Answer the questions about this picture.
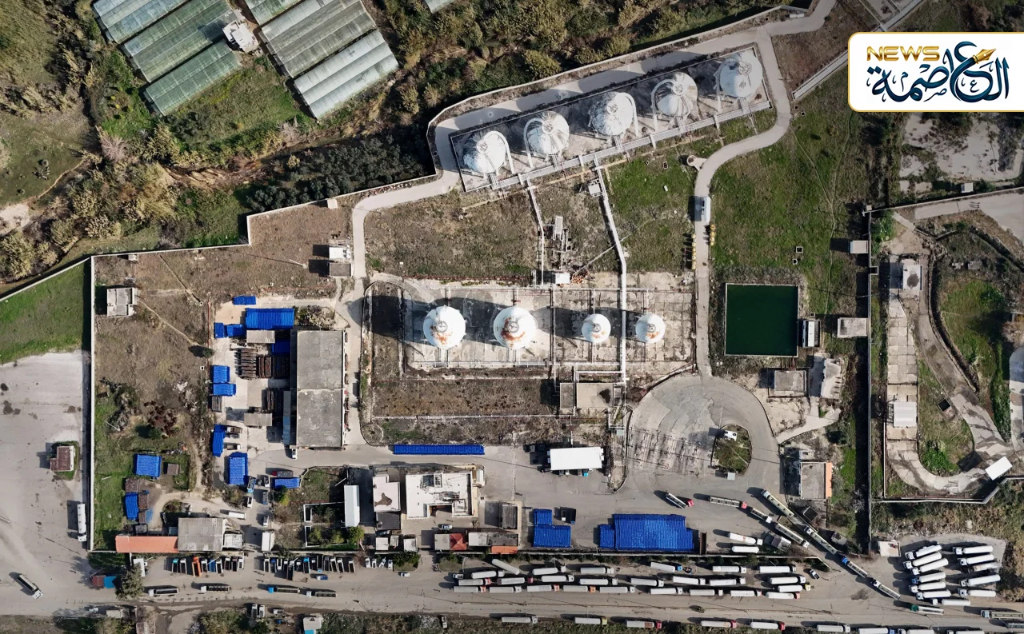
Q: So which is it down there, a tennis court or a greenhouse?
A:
greenhouse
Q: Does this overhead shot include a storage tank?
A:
Yes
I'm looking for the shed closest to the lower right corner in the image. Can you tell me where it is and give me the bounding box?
[875,539,900,557]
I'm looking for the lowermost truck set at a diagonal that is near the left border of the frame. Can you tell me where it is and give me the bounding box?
[18,573,45,598]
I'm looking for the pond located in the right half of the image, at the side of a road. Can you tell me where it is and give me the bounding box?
[724,285,798,370]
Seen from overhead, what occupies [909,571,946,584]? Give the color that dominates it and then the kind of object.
white vehicle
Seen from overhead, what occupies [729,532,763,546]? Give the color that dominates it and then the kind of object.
white vehicle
